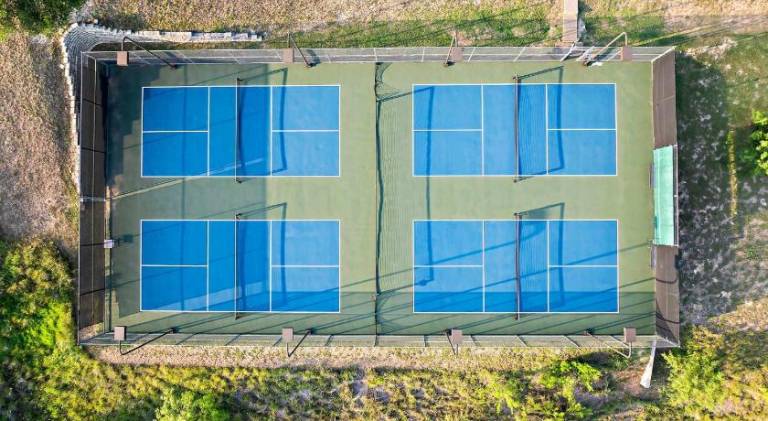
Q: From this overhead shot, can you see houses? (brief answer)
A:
No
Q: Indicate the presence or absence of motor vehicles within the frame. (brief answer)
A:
No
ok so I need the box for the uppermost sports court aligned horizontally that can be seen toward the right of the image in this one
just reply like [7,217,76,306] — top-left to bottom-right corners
[413,83,617,176]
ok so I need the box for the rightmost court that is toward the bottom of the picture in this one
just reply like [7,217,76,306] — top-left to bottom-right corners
[413,220,619,313]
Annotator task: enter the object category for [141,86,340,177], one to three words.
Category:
sports court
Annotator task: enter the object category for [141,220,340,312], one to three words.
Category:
sports court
